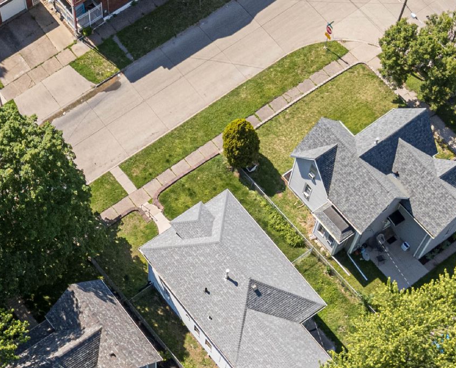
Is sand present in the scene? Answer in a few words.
No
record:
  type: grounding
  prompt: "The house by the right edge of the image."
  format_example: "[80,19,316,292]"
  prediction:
[281,107,456,280]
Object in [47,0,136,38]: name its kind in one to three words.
building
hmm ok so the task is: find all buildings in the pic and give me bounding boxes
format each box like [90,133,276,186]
[137,189,350,368]
[0,279,163,368]
[281,107,456,280]
[0,0,34,26]
[47,0,136,38]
